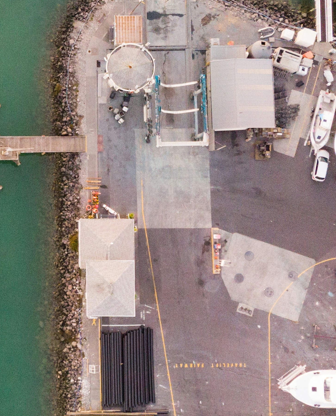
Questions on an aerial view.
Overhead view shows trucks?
Yes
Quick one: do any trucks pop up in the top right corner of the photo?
Yes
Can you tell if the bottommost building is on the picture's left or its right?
left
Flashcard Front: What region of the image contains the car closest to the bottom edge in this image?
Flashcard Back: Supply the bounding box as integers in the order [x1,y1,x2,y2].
[309,150,331,183]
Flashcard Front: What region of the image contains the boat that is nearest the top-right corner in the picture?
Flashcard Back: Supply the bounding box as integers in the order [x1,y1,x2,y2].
[259,26,276,38]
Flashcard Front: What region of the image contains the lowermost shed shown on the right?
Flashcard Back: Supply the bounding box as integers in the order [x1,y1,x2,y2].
[174,59,275,132]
